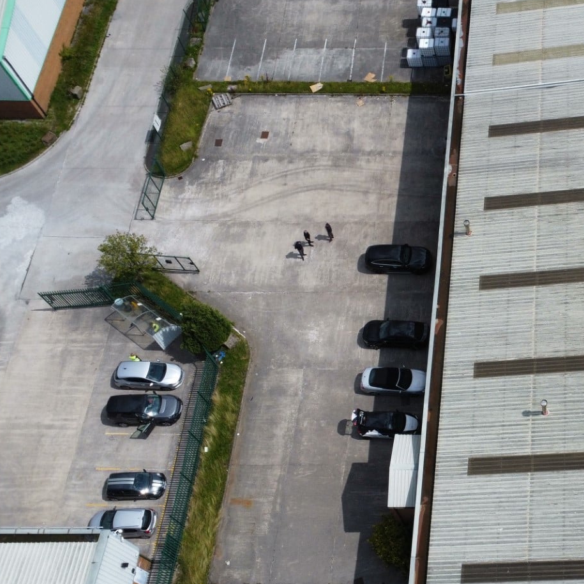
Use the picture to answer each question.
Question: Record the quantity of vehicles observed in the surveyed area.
8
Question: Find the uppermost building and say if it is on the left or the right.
left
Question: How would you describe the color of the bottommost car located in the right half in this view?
black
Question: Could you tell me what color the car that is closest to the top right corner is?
black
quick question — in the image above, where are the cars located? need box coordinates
[104,390,185,439]
[103,468,171,504]
[360,316,431,352]
[112,358,185,394]
[364,242,434,275]
[87,504,165,541]
[357,363,427,399]
[349,406,424,442]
